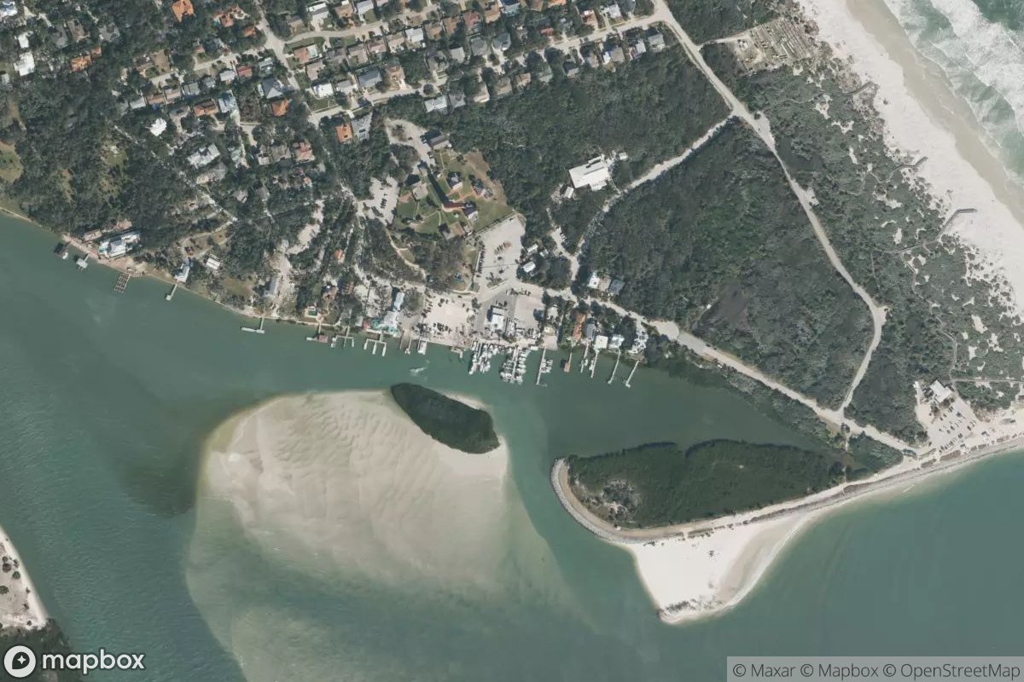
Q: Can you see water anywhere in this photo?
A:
Yes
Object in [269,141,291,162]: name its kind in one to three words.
house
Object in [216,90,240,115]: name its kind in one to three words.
house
